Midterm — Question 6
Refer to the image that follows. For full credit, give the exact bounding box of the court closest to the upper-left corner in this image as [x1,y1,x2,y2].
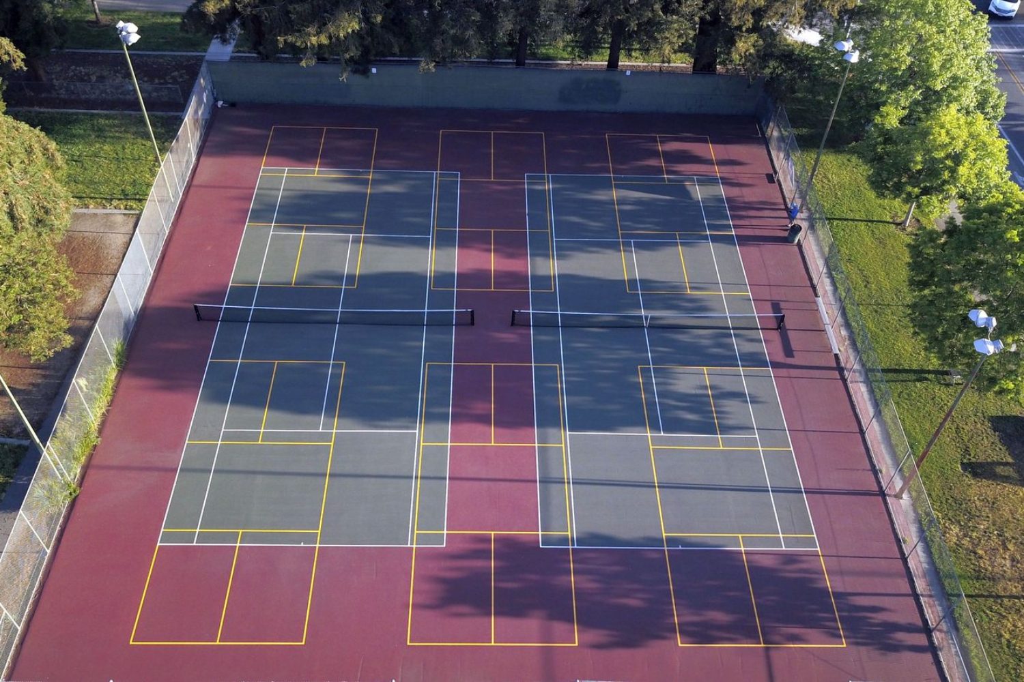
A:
[239,125,378,288]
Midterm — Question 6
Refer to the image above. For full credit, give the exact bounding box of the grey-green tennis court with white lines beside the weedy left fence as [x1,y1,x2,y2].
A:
[158,167,460,547]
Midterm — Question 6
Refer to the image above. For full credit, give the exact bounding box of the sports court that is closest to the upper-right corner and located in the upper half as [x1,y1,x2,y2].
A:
[606,133,750,295]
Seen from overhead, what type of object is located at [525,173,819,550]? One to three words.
tennis court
